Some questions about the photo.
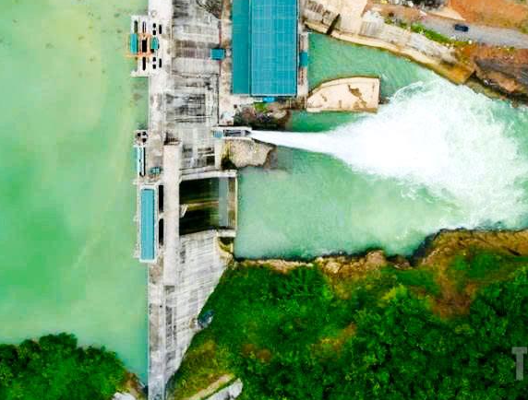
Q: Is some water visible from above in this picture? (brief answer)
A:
Yes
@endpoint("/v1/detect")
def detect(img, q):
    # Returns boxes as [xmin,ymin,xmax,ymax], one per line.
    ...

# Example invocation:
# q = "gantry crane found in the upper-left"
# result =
[124,32,159,56]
